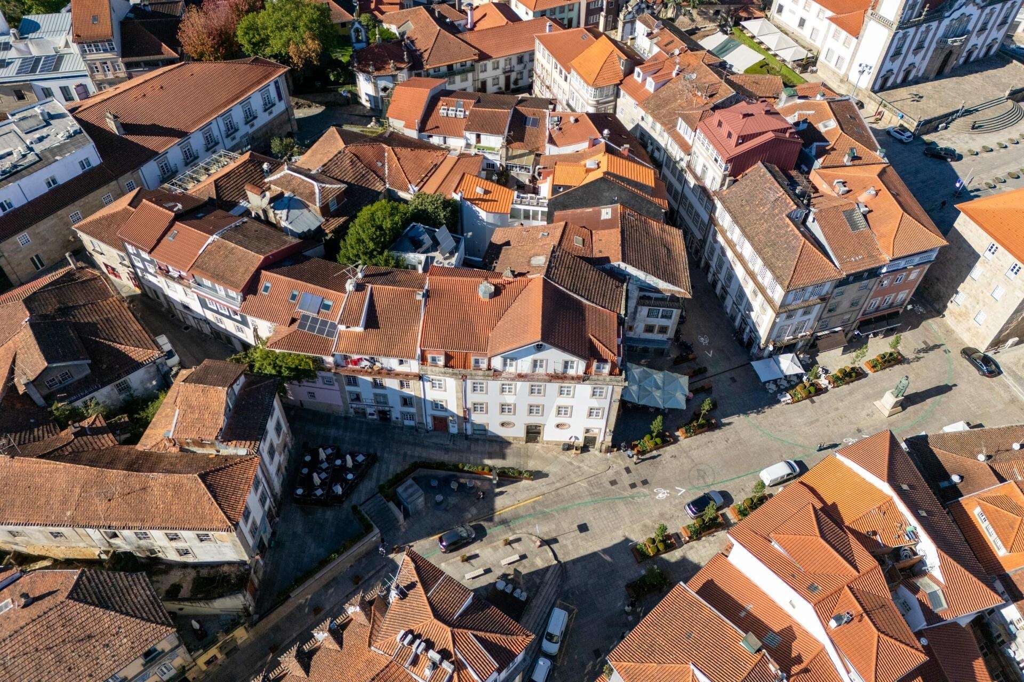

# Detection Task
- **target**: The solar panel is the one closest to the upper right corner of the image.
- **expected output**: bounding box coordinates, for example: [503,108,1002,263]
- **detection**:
[520,115,543,128]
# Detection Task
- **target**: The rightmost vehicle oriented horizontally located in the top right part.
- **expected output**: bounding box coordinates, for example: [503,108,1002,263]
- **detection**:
[928,146,958,160]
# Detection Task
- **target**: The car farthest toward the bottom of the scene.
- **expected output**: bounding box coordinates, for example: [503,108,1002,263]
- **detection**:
[525,656,555,682]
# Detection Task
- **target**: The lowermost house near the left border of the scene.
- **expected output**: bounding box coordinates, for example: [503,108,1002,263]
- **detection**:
[0,567,208,682]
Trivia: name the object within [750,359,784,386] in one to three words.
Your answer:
umbrella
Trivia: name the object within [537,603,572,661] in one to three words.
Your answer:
van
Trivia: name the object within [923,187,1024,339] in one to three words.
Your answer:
building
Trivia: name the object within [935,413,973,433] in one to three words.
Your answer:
umbrella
